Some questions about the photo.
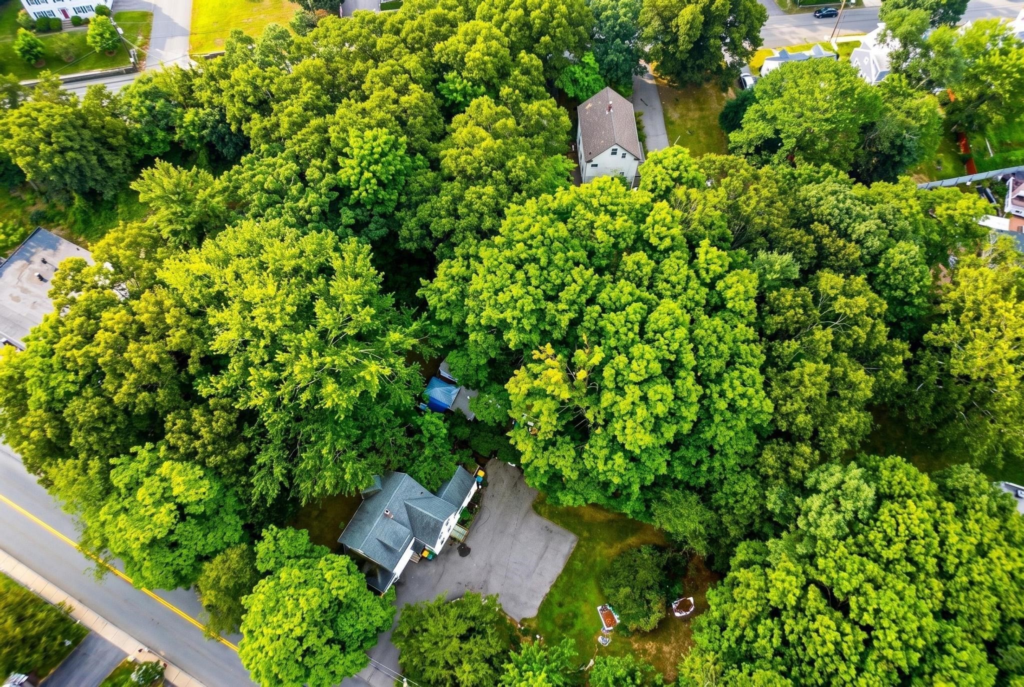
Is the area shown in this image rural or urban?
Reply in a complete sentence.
The area is rural.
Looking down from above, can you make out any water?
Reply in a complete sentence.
No, the scene doesn't show any water.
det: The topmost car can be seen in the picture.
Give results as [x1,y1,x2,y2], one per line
[813,7,839,20]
